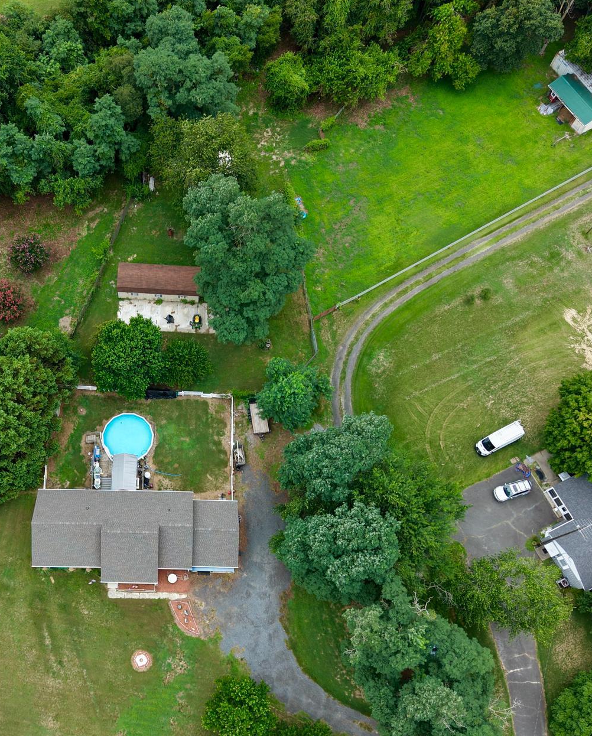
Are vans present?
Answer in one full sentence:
Yes, the image includes a van.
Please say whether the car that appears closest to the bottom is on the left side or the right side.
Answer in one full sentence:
The car that appears closest to the bottom is on the right side of the image.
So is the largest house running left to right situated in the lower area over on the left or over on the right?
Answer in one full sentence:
You can find the largest house running left to right situated in the lower area on the left side of the picture.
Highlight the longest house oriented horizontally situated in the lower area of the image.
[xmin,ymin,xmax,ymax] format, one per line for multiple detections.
[32,489,239,586]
